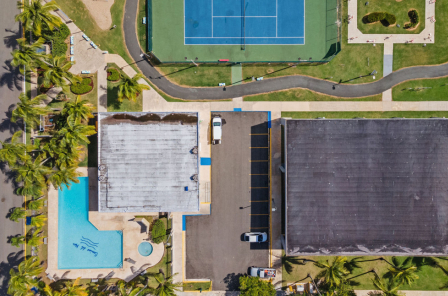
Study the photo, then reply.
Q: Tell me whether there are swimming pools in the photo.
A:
Yes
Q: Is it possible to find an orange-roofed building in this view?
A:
No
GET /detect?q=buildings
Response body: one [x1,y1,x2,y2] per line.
[98,112,199,212]
[278,113,448,255]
